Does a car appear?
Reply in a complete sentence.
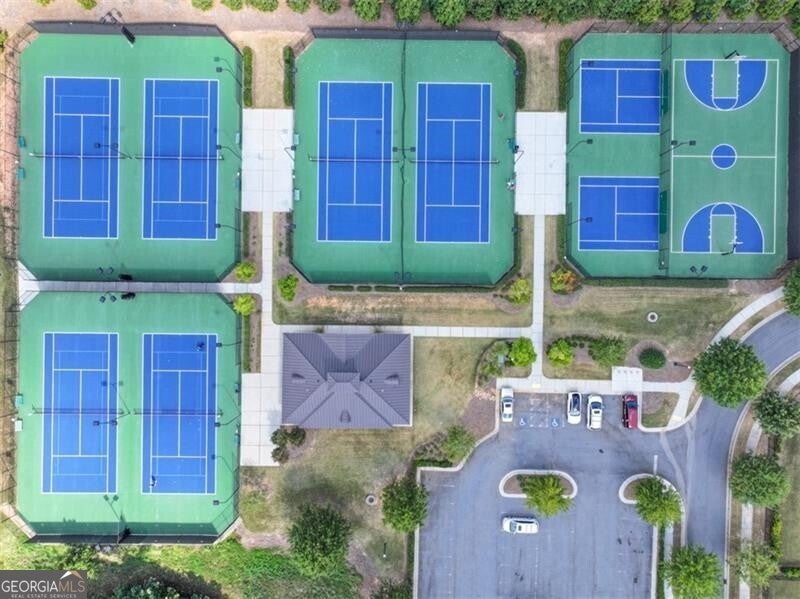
Yes, you can see a car in this photo.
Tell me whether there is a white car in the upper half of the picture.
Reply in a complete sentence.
No, no white car can be made out in the upper half of the picture.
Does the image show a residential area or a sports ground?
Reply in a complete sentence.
The area seen from above is a sports ground.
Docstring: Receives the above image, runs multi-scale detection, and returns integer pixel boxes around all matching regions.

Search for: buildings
[283,330,412,428]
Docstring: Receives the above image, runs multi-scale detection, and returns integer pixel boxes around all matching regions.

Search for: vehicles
[587,394,604,429]
[565,391,581,423]
[621,393,639,428]
[502,515,538,533]
[500,386,515,420]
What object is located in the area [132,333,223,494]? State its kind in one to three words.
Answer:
tennis court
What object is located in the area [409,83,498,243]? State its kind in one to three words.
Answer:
tennis court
